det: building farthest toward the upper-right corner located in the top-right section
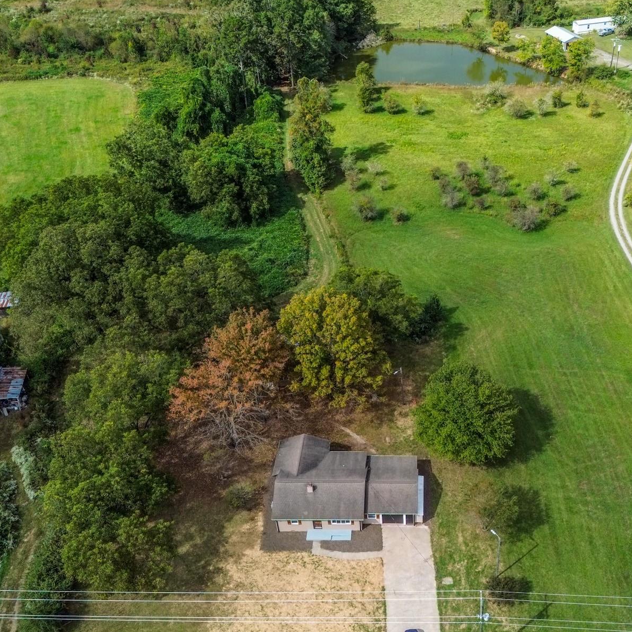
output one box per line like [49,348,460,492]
[568,15,623,34]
